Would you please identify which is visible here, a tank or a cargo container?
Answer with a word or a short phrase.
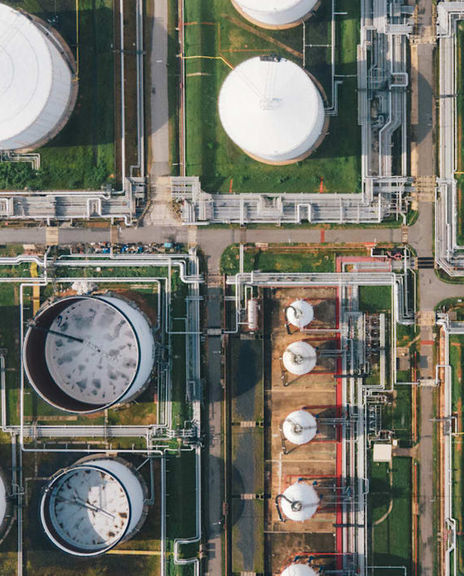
tank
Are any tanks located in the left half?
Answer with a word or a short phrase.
Yes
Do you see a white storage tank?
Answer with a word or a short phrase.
Yes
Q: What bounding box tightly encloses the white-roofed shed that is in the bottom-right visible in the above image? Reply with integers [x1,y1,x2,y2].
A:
[372,445,391,463]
